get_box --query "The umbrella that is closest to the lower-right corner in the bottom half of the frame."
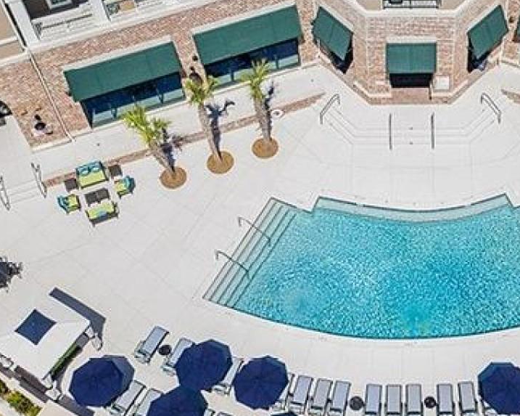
[477,365,520,415]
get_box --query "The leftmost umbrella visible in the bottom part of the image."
[74,355,135,411]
